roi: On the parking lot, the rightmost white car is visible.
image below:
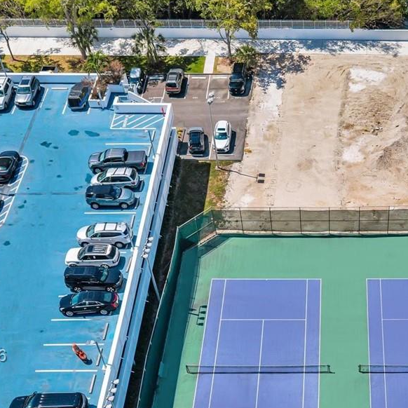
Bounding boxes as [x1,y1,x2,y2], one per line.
[213,123,233,152]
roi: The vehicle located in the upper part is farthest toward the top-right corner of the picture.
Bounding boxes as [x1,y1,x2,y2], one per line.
[228,67,247,95]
